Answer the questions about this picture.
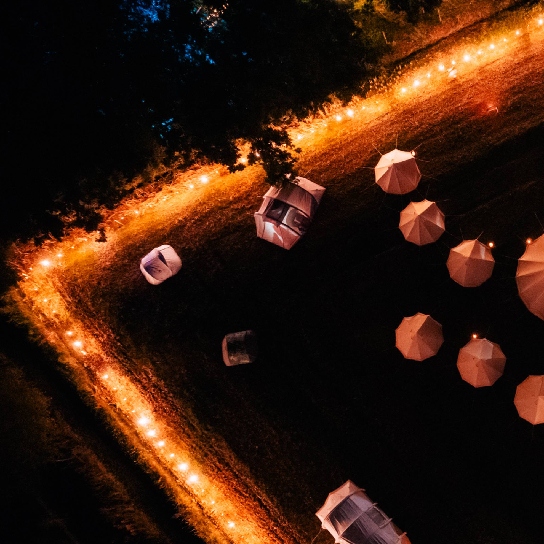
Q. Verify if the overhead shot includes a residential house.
No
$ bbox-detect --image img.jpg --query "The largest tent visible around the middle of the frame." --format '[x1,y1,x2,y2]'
[253,183,330,250]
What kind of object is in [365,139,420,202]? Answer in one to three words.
tent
